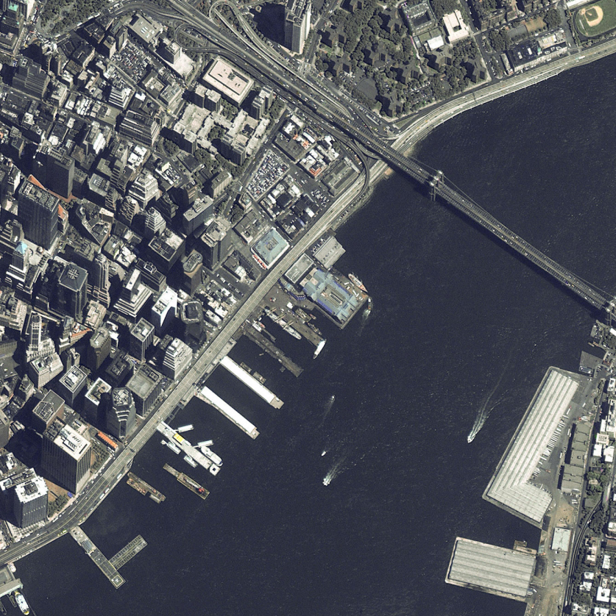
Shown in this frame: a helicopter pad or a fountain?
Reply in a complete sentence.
This aerial view contains a helicopter pad.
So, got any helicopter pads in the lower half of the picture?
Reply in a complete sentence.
Yes, you'll find a helicopter pad in the lower half of the picture.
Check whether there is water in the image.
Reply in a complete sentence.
Yes, there's water in this view.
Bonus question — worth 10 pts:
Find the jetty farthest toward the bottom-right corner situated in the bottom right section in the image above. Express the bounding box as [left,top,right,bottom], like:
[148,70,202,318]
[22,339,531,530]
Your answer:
[445,537,539,603]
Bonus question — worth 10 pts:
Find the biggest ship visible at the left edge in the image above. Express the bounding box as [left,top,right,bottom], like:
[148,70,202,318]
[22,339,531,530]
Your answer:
[15,592,30,614]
